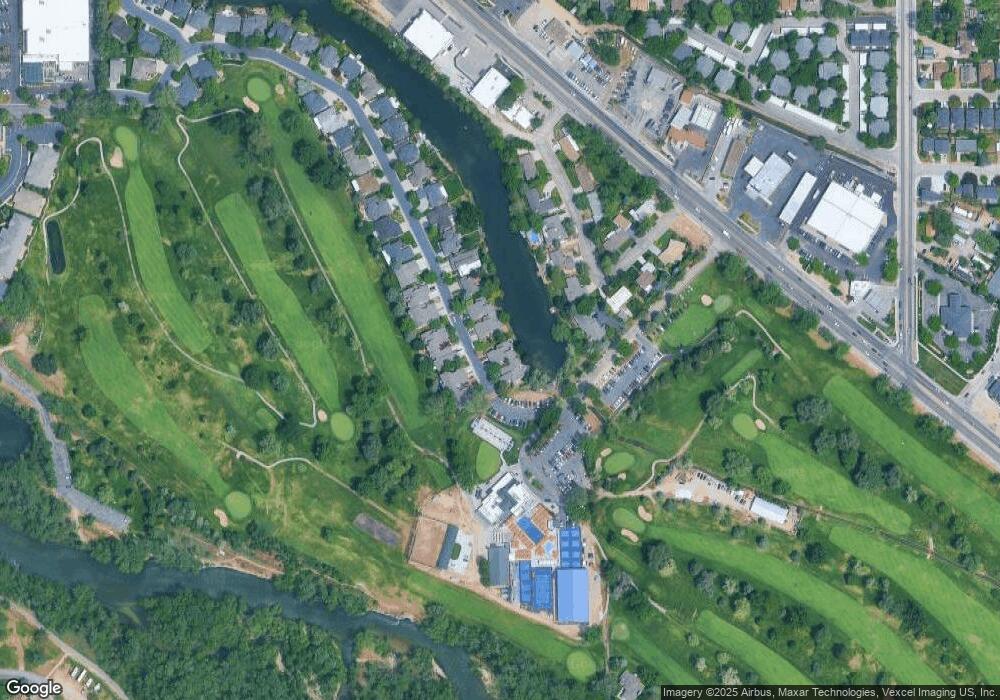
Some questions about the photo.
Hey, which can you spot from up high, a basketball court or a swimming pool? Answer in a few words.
swimming pool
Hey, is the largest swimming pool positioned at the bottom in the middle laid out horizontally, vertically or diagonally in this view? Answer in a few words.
diagonally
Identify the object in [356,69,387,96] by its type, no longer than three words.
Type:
house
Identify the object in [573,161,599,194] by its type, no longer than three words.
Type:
house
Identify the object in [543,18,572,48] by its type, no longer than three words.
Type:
building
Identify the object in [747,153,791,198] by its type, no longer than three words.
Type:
building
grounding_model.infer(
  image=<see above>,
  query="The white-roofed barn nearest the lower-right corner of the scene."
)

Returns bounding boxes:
[751,497,789,524]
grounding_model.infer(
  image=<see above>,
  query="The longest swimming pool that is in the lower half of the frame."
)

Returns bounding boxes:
[517,515,544,545]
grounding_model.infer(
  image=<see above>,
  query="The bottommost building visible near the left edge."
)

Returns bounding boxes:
[0,214,33,285]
